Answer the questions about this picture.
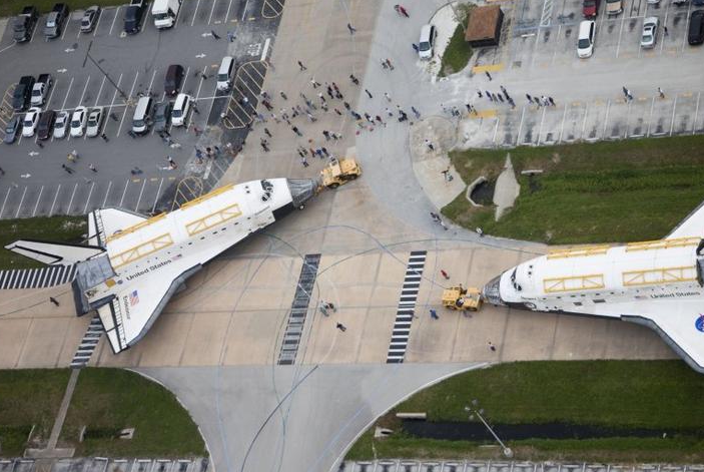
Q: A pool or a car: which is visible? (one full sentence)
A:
Visible in the photo is a car.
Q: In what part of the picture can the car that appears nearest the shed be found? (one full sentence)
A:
The car that appears nearest the shed sits in the top section of the image.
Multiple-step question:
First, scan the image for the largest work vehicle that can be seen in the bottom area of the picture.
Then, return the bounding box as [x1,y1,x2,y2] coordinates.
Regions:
[439,287,484,313]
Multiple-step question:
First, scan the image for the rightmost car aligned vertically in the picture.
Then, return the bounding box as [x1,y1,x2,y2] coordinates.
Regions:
[686,8,704,47]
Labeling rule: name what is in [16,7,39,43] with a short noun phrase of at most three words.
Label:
truck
